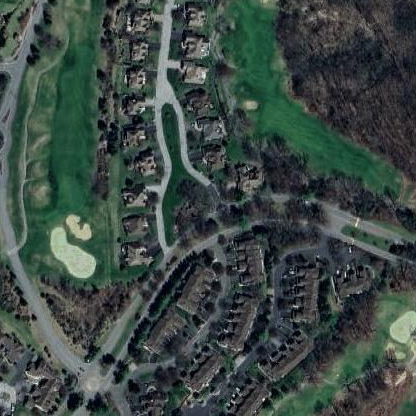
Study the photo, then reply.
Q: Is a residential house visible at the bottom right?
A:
No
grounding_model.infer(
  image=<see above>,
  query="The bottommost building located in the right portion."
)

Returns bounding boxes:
[238,163,266,190]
